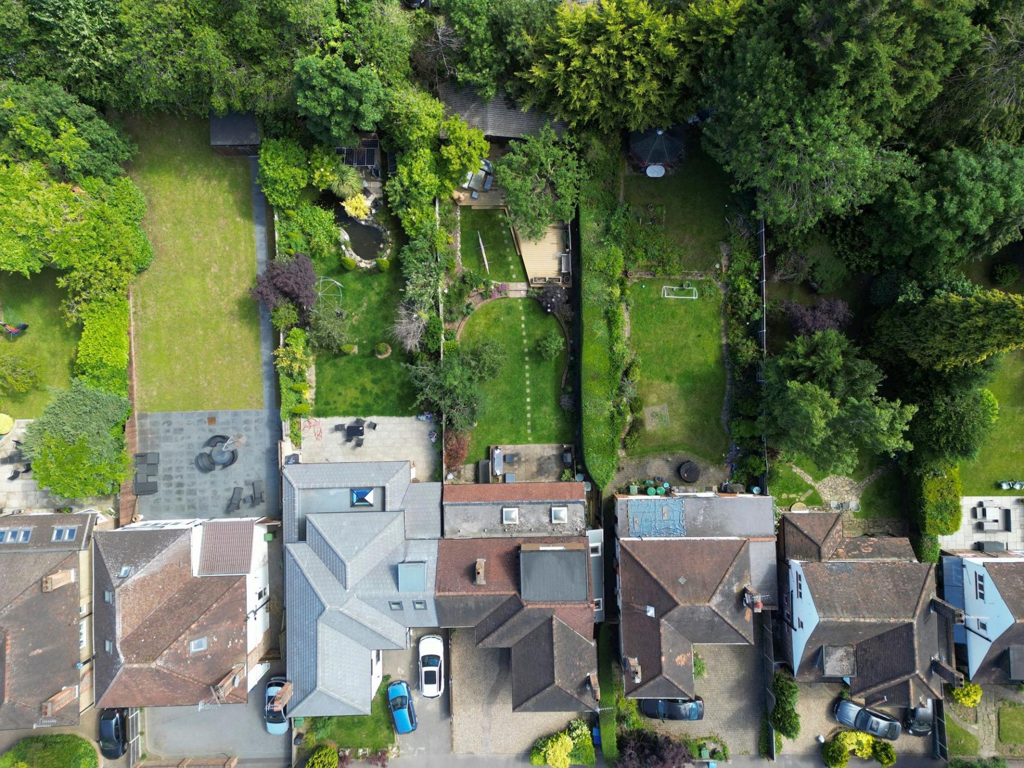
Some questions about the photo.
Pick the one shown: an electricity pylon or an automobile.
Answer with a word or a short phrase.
automobile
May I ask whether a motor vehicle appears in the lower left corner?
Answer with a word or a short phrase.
Yes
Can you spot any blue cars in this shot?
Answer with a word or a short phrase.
Yes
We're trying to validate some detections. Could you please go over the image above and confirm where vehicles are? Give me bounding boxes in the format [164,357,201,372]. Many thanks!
[259,679,289,739]
[907,699,940,747]
[414,636,445,704]
[642,696,707,729]
[836,700,909,746]
[91,707,124,766]
[387,682,417,740]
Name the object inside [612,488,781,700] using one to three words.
house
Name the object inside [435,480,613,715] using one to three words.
house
